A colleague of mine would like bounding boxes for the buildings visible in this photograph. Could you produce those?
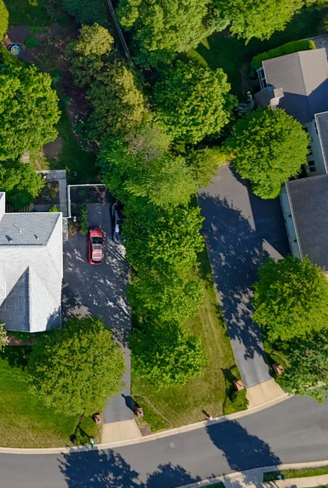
[0,193,63,333]
[249,48,328,271]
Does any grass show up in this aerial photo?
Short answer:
Yes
